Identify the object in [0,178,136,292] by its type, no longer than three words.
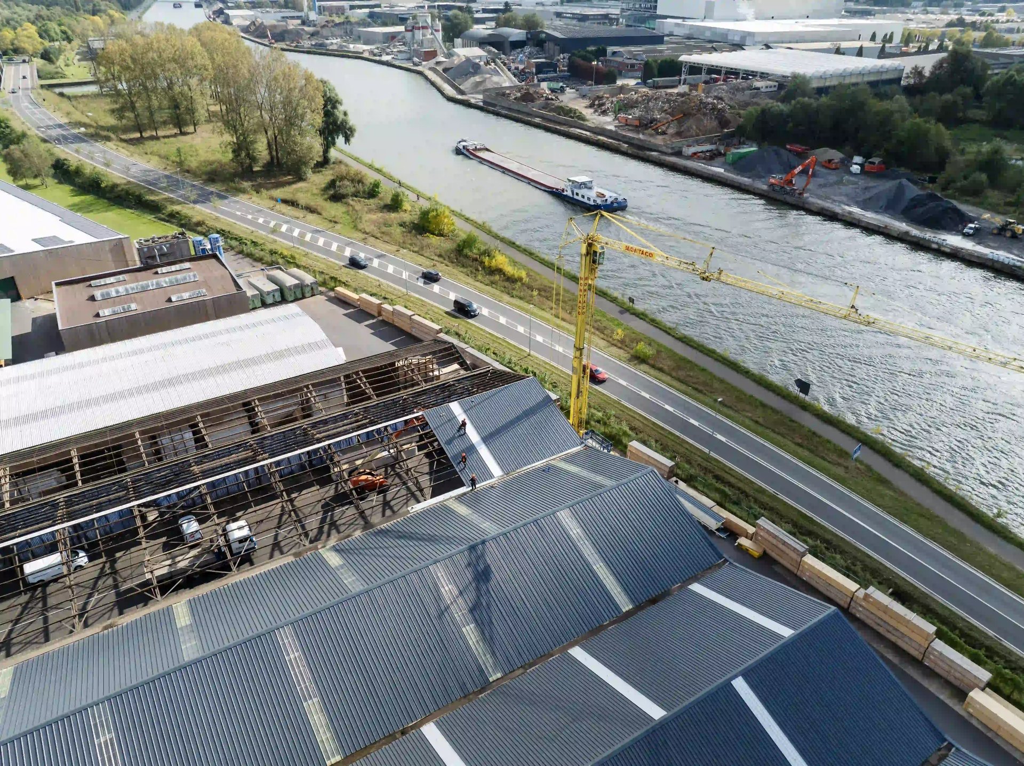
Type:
building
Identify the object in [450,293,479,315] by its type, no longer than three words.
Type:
vehicle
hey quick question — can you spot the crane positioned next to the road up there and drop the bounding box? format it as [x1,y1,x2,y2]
[557,211,1024,446]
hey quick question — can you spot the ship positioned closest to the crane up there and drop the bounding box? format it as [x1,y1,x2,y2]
[463,139,629,208]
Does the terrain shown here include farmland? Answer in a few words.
No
